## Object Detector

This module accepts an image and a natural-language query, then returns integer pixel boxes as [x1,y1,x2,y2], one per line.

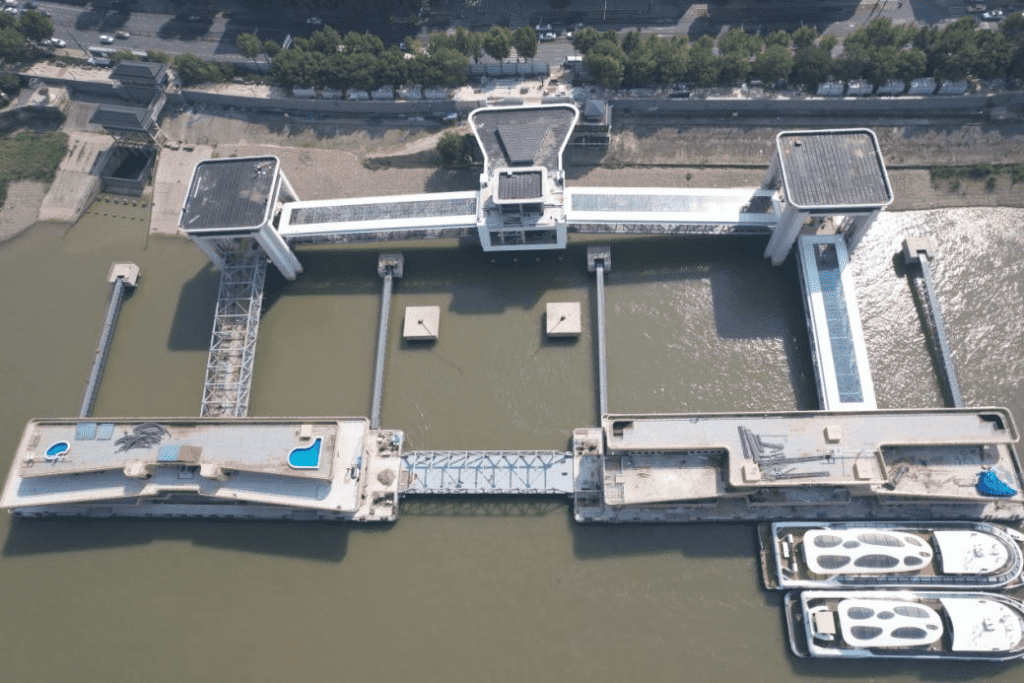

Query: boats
[759,521,1024,590]
[787,591,1024,658]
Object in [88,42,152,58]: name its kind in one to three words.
vehicle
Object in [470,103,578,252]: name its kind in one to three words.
building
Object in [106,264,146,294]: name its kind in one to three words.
pier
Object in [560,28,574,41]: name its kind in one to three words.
vehicle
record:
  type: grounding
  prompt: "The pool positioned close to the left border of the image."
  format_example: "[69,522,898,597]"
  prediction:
[44,440,72,460]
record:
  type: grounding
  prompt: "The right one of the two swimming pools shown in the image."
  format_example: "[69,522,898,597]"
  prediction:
[287,436,324,471]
